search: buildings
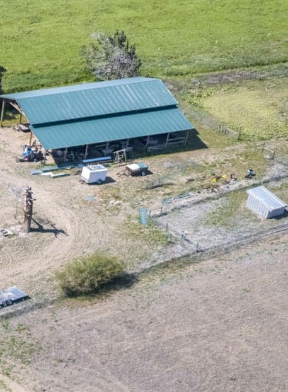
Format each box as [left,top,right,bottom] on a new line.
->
[2,75,195,161]
[248,184,288,219]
